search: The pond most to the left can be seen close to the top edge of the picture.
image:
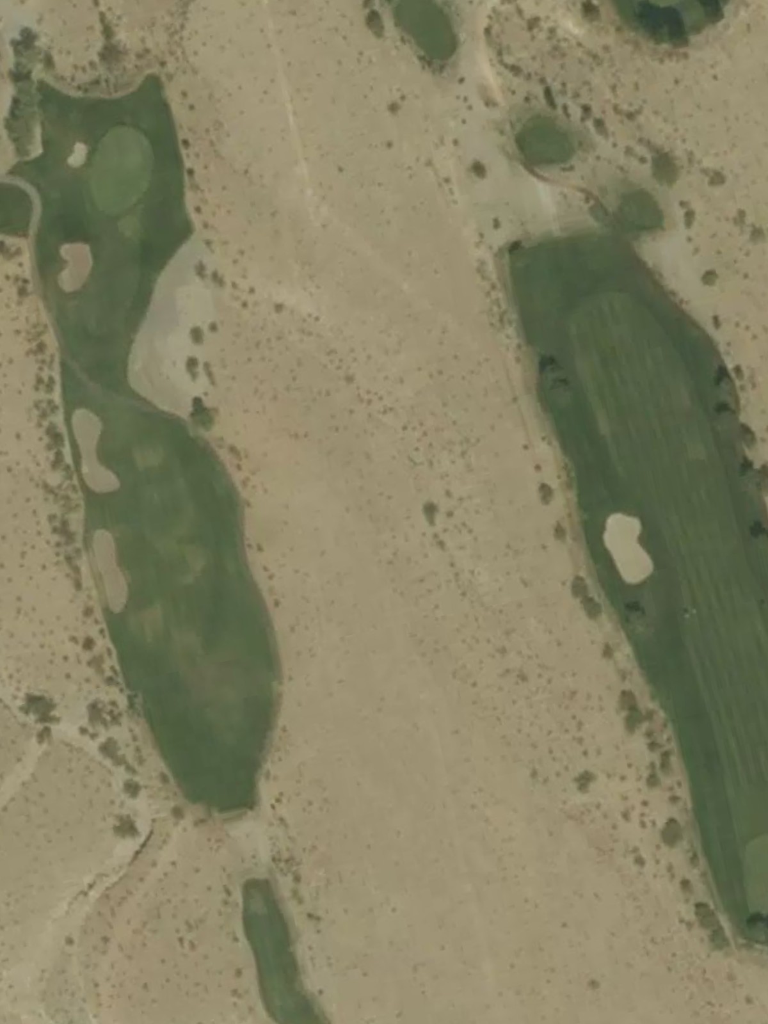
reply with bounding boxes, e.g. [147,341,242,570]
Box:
[632,0,688,46]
